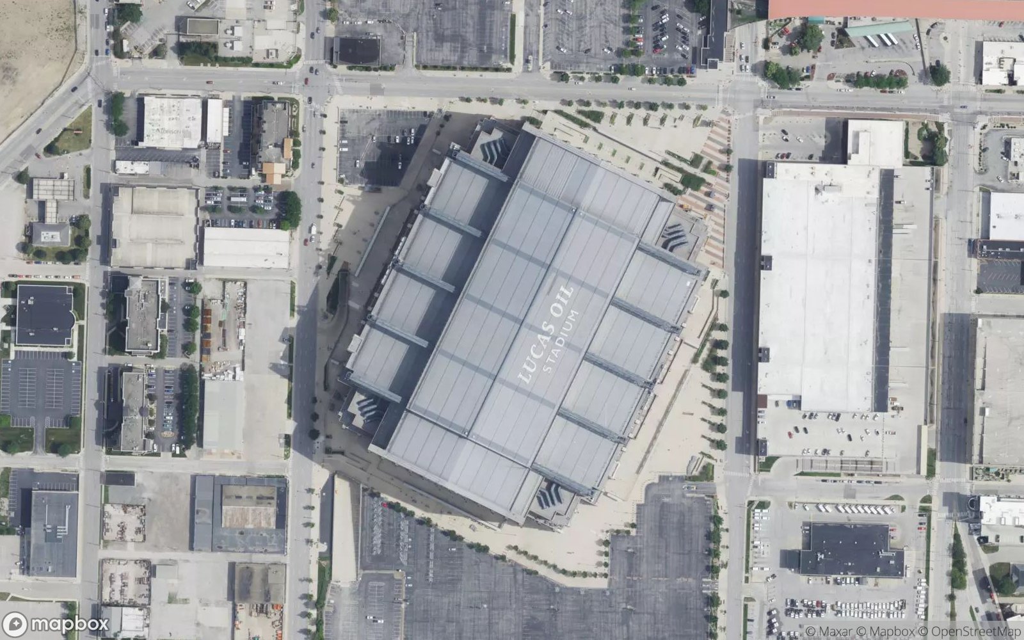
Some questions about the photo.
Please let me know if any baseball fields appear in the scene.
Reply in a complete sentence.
No, no baseball field is visible in the scene.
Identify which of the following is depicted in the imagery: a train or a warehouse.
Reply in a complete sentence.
There is a warehouse in the scene.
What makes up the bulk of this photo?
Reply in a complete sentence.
The bulk of the photo consists of paved ground.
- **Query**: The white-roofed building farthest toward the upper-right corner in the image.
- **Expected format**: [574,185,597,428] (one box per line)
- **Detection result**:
[982,42,1024,85]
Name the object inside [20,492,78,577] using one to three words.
building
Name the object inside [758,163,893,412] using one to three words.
warehouse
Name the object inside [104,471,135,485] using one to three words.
shed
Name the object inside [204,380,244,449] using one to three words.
building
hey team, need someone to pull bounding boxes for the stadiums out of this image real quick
[335,116,713,531]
